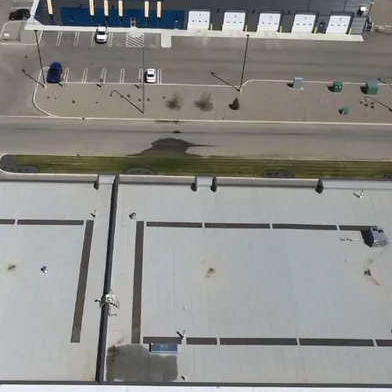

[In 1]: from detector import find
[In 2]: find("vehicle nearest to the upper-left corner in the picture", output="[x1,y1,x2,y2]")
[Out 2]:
[6,6,30,19]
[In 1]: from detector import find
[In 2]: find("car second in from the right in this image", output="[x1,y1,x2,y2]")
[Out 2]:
[96,24,108,41]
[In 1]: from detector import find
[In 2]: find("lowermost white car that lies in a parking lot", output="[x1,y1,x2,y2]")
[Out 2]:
[143,66,156,82]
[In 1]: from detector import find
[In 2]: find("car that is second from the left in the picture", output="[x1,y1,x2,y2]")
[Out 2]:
[48,63,62,79]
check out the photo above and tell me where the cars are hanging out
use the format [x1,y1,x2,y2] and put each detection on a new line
[48,63,62,79]
[96,24,108,41]
[6,6,30,19]
[143,66,156,82]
